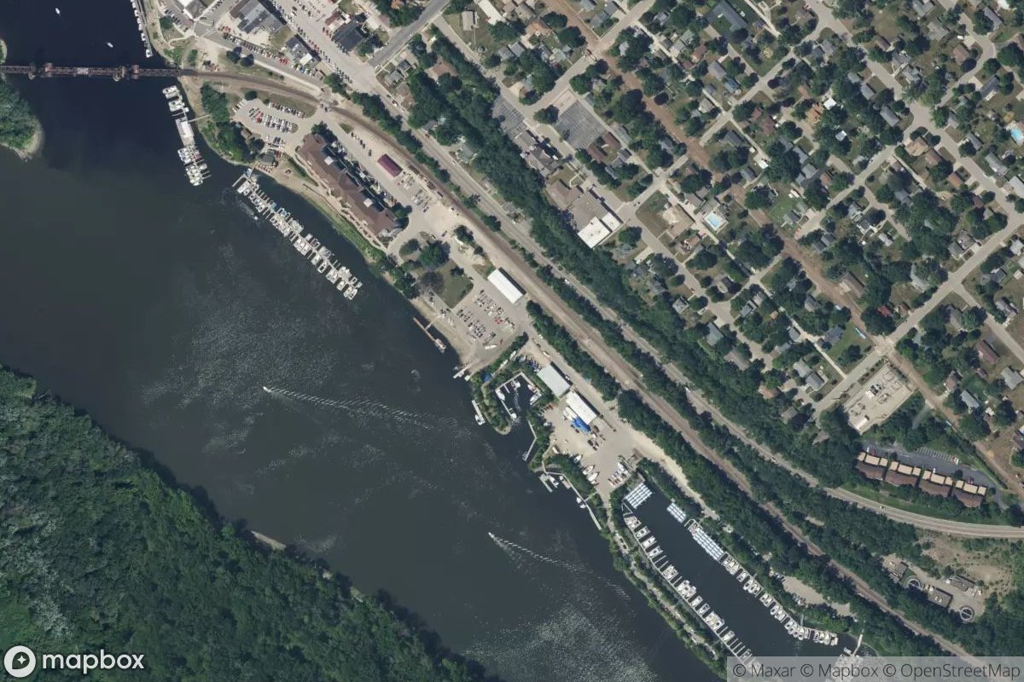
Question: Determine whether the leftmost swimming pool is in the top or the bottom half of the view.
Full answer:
It is in the top half that the leftmost swimming pool appears.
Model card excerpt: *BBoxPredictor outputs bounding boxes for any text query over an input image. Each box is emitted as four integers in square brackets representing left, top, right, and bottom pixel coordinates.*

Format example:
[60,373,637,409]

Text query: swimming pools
[702,210,730,231]
[1005,120,1024,149]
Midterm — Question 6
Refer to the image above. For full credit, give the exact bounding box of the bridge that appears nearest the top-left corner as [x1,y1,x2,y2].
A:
[0,61,184,83]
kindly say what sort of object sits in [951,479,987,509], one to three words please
building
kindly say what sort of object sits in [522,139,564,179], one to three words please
building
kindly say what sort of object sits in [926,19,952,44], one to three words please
house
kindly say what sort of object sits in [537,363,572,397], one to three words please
shed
